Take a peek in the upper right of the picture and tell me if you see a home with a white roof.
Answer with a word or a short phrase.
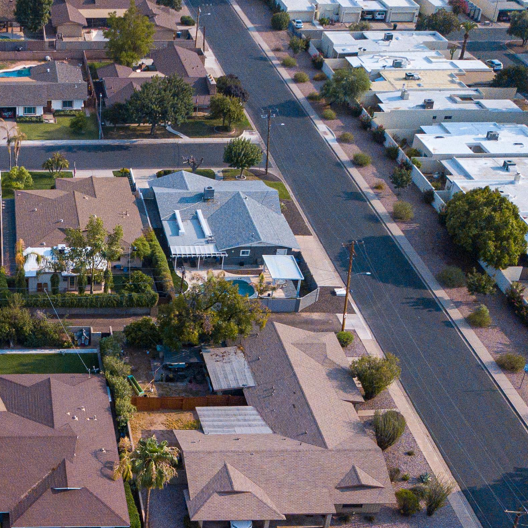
Yes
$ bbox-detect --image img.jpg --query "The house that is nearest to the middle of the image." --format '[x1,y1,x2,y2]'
[145,169,304,274]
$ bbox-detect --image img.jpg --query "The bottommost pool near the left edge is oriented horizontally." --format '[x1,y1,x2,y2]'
[0,66,33,78]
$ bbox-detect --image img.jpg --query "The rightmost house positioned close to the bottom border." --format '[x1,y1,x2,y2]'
[170,319,399,528]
